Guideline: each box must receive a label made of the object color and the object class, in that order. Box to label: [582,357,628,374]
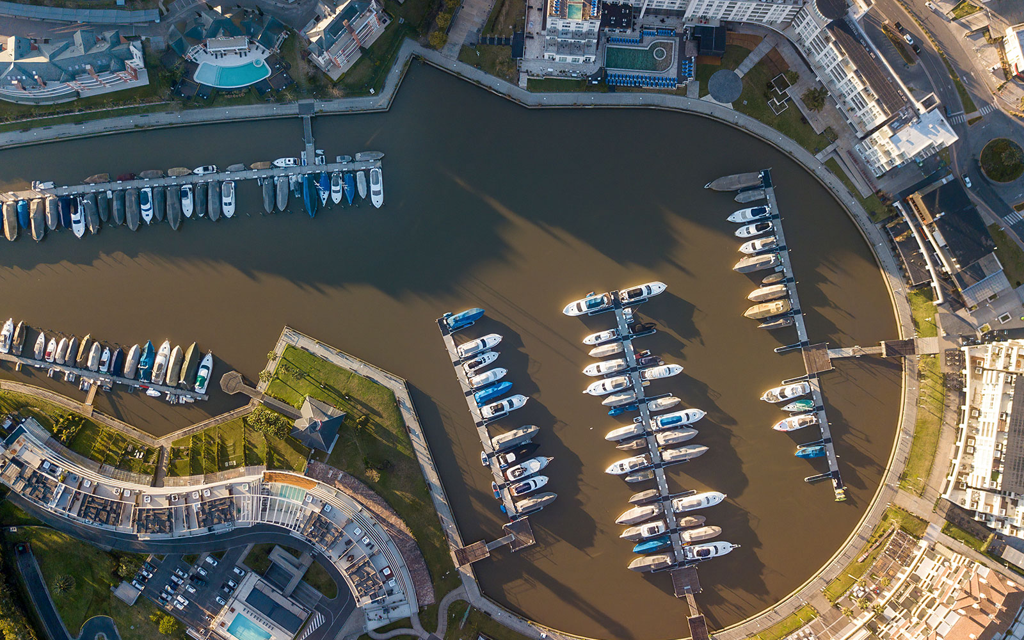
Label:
white boat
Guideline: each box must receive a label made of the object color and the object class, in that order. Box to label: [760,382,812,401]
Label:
white boat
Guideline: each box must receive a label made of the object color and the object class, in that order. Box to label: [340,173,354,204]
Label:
blue boat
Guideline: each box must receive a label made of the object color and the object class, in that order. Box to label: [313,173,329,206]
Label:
blue boat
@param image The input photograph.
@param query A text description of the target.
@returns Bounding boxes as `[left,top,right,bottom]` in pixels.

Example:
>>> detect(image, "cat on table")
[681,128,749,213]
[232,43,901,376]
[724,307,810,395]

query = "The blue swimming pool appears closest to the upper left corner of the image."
[193,56,274,90]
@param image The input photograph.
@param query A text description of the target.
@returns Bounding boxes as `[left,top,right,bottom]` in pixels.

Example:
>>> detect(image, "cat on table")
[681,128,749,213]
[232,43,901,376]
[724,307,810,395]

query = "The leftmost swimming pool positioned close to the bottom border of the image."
[221,611,275,640]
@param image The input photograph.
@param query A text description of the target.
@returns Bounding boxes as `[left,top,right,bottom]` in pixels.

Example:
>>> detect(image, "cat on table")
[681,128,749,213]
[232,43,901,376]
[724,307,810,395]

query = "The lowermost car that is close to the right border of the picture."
[962,173,974,188]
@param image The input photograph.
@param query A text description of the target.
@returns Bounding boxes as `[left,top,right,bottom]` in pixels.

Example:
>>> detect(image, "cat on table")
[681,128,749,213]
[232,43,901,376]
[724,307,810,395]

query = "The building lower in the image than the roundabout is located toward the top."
[886,178,1011,308]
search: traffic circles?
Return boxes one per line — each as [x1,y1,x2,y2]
[980,138,1024,181]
